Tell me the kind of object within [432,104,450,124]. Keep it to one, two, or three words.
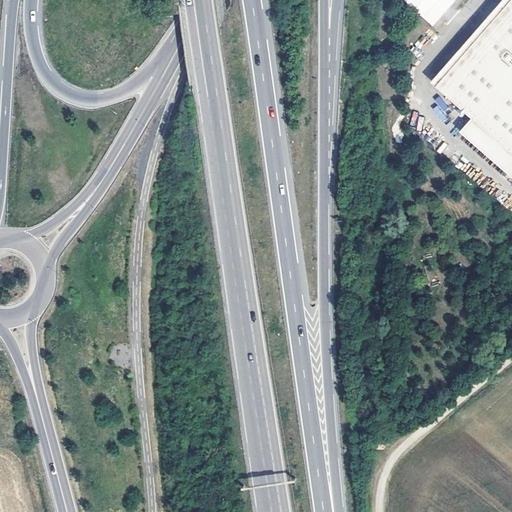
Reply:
vehicle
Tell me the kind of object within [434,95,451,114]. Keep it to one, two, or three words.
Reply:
vehicle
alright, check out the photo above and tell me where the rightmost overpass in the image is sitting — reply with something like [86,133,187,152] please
[174,0,232,132]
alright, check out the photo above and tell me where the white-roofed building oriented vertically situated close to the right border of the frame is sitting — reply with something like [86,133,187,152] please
[428,0,512,182]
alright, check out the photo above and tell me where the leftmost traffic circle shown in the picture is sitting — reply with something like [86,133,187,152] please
[0,229,55,328]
